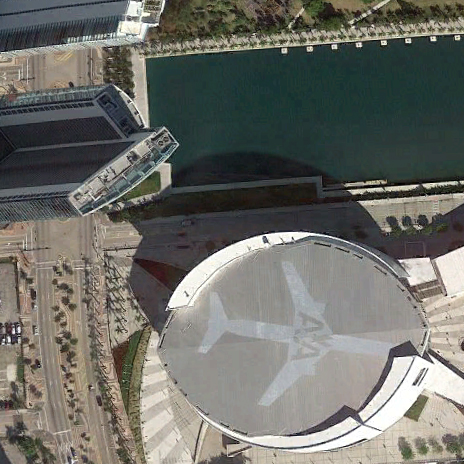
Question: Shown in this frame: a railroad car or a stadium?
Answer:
stadium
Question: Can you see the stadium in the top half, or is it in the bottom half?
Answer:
bottom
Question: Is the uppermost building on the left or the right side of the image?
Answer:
left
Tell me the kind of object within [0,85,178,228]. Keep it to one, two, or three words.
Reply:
building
